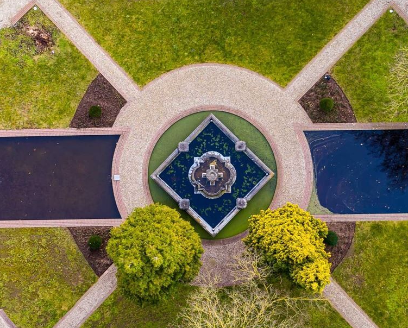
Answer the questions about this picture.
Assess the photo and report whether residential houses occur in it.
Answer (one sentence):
No, the photo shows no residential house.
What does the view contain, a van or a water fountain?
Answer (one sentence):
This aerial view contains a water fountain.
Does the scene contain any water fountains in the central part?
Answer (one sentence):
Yes, there is a water fountain in the central part.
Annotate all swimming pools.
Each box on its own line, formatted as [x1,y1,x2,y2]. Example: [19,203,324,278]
[0,128,130,227]
[295,123,408,220]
